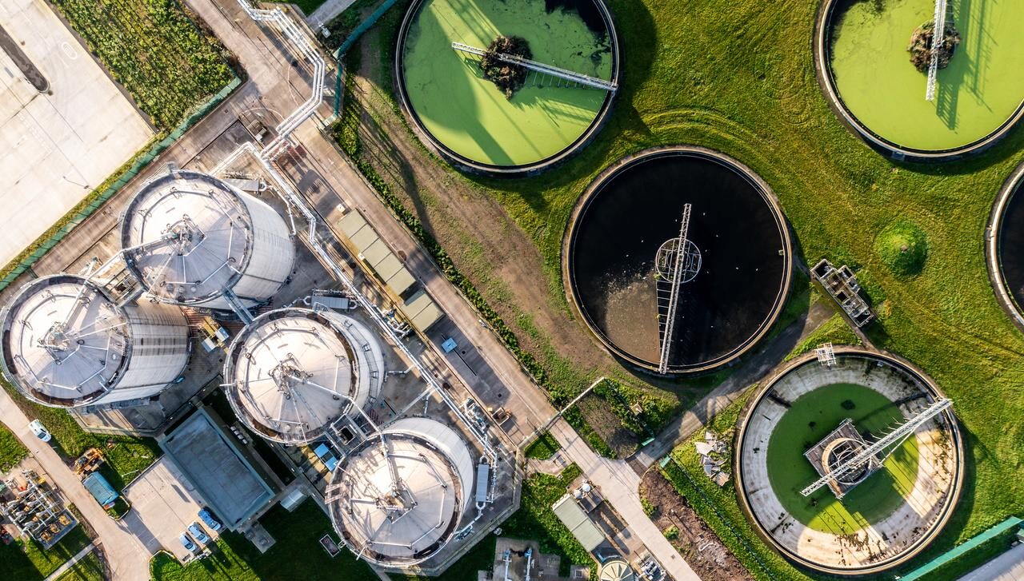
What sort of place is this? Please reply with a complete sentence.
What you see here is an industrial area.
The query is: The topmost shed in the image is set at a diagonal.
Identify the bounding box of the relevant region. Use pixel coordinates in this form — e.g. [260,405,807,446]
[338,208,418,295]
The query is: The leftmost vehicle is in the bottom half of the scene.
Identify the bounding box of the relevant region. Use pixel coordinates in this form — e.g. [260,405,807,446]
[27,418,54,443]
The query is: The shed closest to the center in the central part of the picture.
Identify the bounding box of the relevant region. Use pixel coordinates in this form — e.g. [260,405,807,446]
[401,288,447,331]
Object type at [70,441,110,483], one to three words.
work vehicle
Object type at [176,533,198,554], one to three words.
car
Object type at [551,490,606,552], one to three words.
shed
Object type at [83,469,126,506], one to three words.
shed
